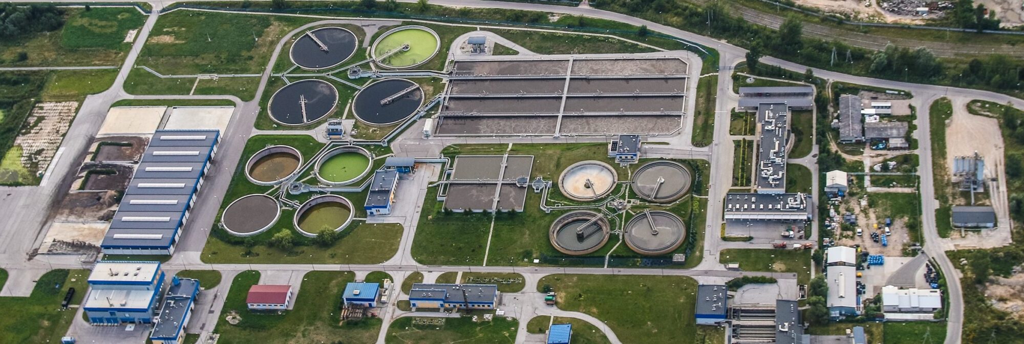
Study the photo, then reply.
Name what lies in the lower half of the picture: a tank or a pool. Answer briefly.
tank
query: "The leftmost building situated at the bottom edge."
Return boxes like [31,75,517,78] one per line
[82,261,171,335]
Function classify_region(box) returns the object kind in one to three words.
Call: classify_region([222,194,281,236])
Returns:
storage tank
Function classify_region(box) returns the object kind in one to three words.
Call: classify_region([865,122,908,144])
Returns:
barn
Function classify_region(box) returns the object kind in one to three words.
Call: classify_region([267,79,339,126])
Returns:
storage tank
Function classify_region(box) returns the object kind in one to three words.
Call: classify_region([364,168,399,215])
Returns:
building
